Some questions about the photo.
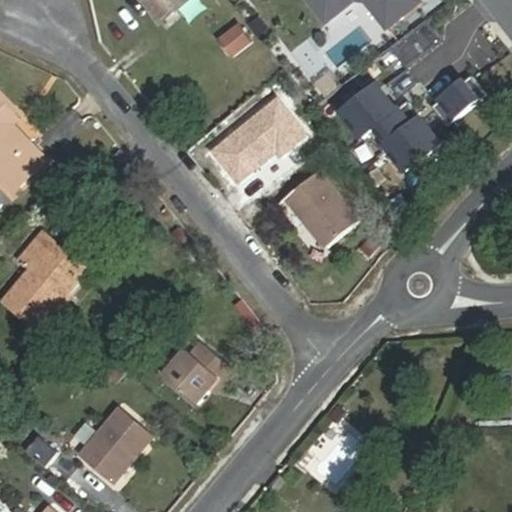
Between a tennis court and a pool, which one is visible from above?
pool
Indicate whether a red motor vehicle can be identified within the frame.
Yes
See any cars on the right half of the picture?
Yes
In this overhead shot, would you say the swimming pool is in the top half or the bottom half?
top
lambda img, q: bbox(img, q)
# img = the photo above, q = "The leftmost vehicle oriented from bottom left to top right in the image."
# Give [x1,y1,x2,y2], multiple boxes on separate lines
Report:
[244,178,264,196]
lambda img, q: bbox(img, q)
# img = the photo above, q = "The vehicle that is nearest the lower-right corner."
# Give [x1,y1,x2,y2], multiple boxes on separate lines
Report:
[272,271,290,288]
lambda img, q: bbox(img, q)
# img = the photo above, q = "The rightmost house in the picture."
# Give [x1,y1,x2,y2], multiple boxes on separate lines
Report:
[433,76,480,128]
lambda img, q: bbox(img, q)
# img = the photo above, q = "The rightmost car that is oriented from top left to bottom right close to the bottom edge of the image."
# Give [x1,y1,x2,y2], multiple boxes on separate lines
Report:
[84,472,105,491]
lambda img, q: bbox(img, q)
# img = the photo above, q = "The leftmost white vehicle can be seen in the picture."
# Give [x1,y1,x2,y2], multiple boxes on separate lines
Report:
[32,476,56,498]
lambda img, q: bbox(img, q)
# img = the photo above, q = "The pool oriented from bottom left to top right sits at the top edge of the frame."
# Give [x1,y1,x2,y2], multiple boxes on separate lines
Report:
[324,24,373,67]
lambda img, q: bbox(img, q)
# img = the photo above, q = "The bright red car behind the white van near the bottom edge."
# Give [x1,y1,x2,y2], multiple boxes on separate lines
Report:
[53,491,74,511]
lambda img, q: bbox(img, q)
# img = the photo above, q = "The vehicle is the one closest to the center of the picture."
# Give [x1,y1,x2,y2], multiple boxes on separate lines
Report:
[245,236,262,256]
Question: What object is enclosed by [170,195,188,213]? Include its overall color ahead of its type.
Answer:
gray car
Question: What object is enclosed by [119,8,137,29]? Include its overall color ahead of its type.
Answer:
white vehicle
